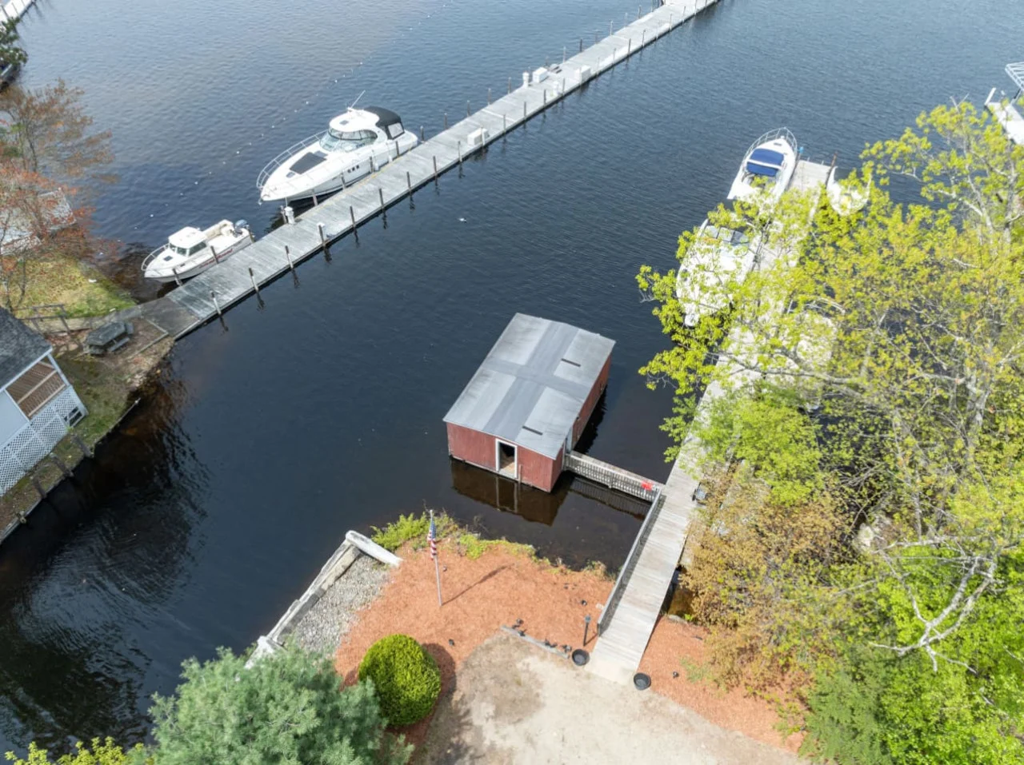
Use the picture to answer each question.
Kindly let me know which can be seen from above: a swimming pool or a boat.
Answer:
boat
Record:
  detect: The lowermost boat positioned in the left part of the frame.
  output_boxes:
[149,213,259,282]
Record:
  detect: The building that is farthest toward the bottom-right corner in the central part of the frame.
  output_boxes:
[440,318,614,517]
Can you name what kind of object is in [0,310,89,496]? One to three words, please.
house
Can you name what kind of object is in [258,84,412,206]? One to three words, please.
boat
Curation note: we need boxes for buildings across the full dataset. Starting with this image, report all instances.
[440,318,614,517]
[0,310,89,496]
